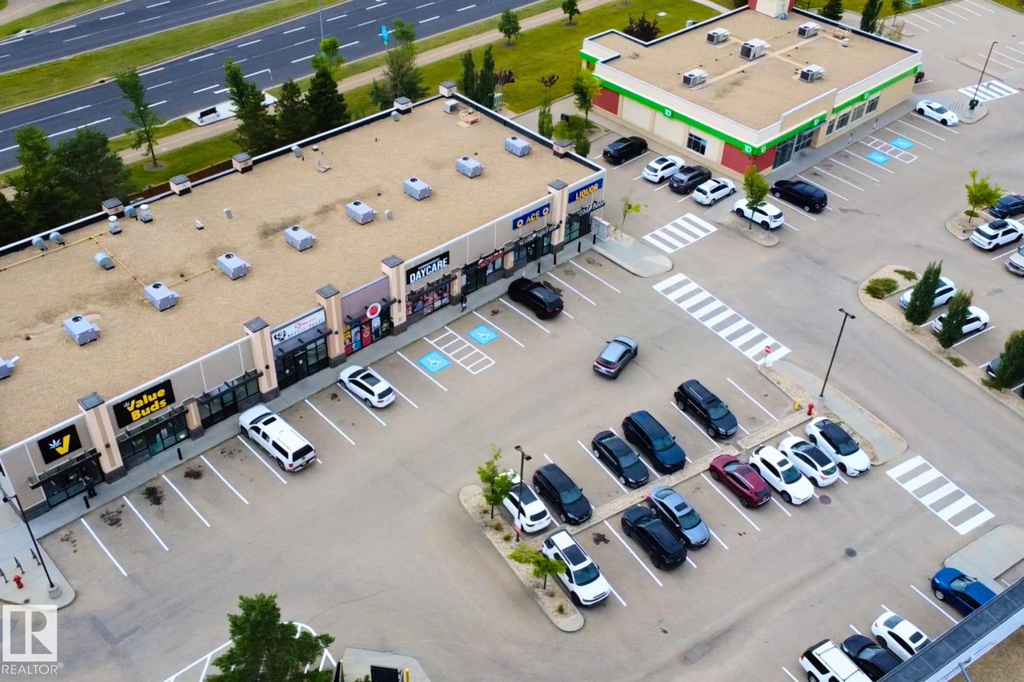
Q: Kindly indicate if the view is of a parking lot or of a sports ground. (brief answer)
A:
parking lot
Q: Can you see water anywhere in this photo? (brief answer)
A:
No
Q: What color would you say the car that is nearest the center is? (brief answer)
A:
black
